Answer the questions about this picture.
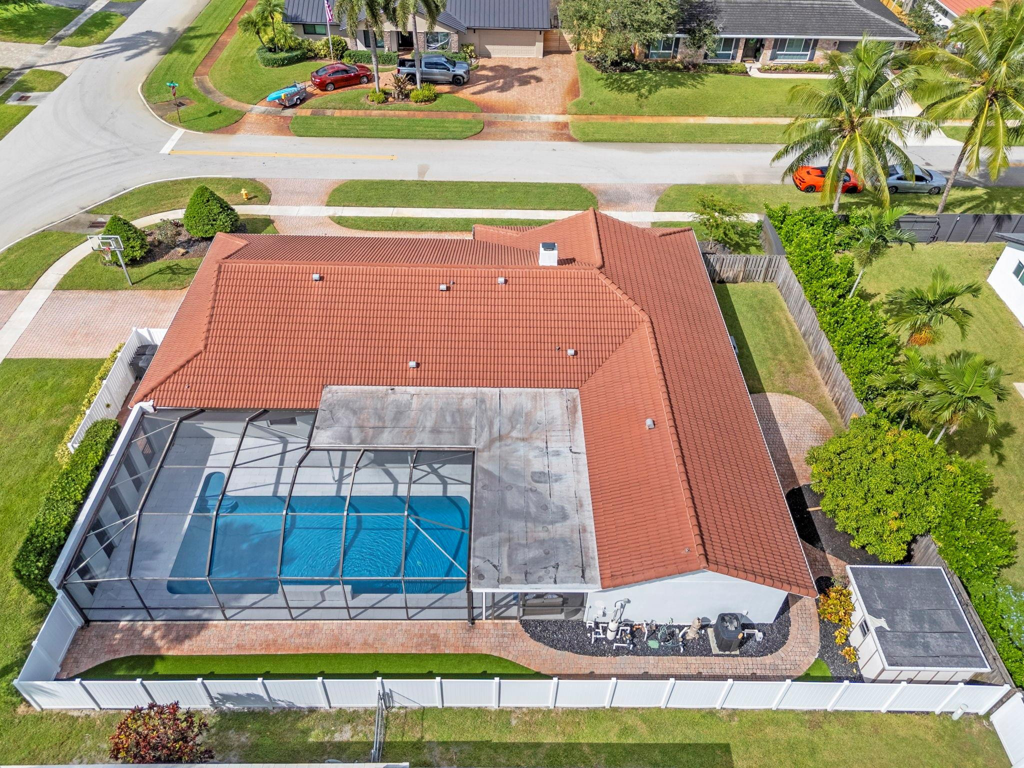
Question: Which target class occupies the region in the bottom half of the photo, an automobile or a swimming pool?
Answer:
swimming pool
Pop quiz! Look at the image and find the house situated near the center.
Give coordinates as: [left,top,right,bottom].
[125,206,821,623]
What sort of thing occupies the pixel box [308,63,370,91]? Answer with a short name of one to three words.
car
